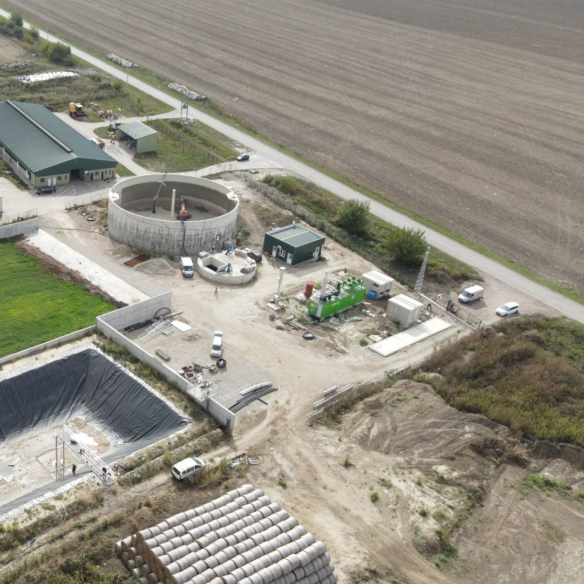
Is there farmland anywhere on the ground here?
Yes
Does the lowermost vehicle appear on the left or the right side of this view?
left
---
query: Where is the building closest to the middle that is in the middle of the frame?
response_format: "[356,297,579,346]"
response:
[262,223,325,264]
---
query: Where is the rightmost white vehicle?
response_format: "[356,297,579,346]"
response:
[495,302,524,317]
